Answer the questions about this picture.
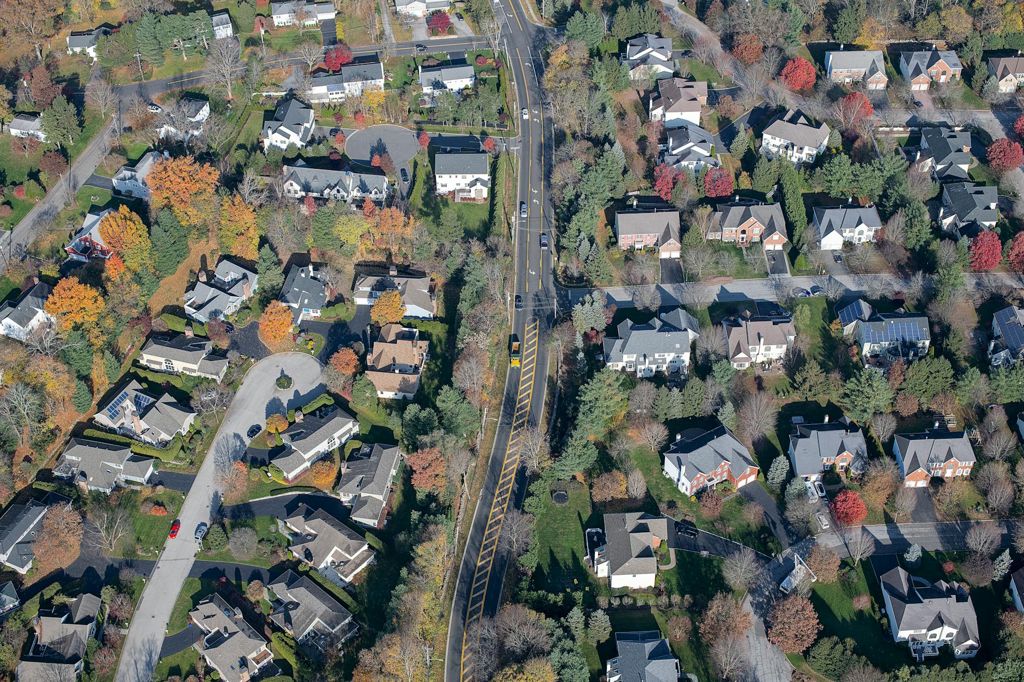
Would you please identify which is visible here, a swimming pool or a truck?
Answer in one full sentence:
It is a truck that can be seen here.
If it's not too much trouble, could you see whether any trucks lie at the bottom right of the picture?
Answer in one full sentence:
Yes, a truck is visible at the bottom right of the picture.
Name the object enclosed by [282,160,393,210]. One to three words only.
house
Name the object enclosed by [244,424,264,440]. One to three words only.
car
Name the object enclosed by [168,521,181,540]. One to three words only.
vehicle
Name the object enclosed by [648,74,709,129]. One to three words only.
house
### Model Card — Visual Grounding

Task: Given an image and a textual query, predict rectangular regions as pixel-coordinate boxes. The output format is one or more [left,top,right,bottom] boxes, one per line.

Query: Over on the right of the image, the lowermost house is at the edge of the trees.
[604,622,677,682]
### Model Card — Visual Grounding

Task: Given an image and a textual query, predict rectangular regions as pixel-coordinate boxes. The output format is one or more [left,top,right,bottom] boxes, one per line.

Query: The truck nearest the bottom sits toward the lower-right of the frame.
[782,555,817,589]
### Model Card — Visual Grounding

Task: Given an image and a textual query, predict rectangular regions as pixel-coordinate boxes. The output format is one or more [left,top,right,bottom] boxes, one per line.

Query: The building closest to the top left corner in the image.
[66,22,108,57]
